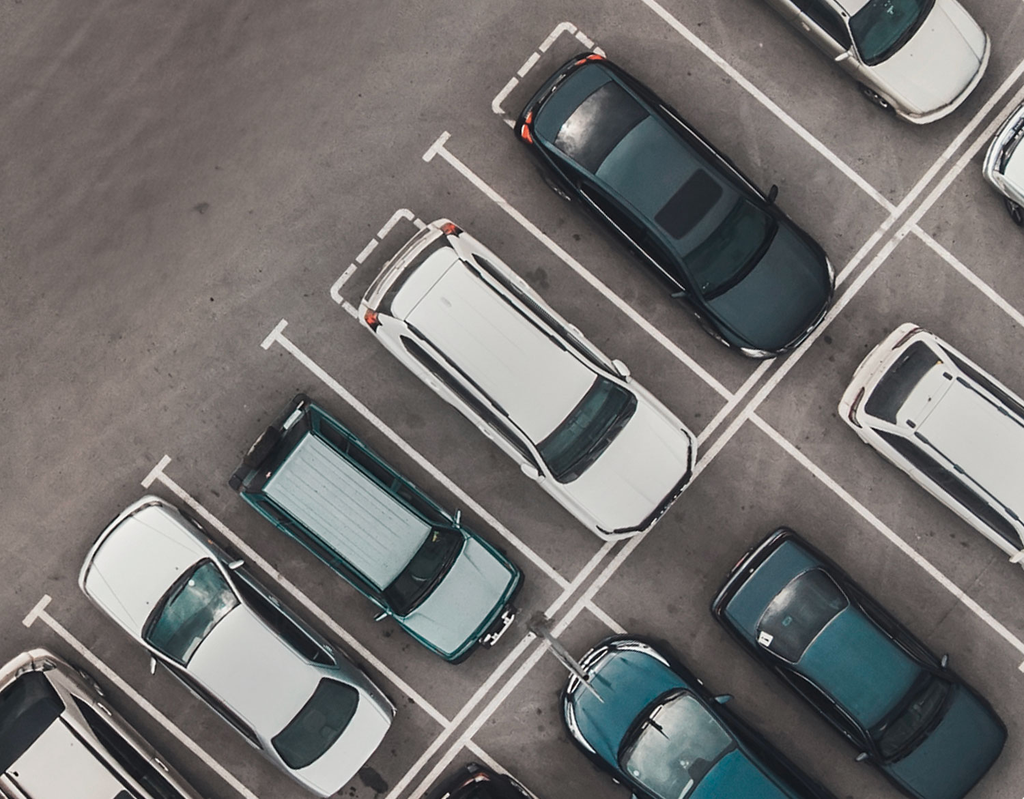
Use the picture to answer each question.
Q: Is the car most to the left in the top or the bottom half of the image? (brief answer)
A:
bottom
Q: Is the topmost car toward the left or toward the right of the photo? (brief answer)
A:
right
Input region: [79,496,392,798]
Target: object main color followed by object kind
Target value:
white car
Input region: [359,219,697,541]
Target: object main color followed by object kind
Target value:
white car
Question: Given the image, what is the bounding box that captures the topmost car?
[763,0,989,123]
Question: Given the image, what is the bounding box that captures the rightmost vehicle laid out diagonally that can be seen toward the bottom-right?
[710,528,1007,799]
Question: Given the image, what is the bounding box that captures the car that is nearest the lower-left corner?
[0,648,211,799]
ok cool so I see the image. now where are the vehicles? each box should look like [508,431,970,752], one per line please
[231,395,524,661]
[563,637,835,799]
[359,219,697,541]
[710,528,1007,799]
[79,496,392,798]
[981,108,1024,222]
[0,648,211,799]
[431,762,536,799]
[515,52,833,359]
[763,0,989,123]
